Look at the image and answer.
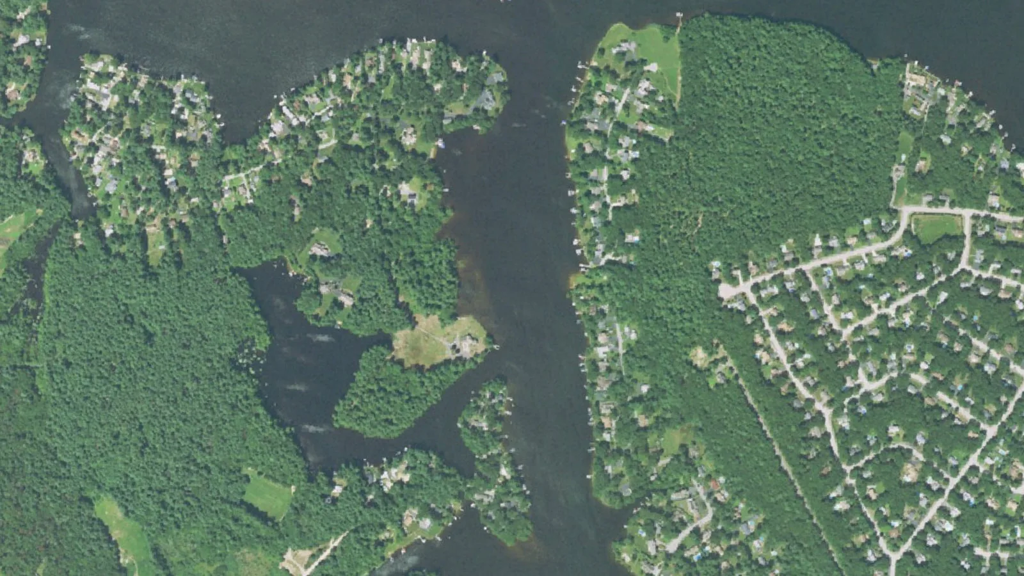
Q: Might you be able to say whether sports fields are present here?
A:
Yes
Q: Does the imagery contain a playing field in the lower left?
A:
Yes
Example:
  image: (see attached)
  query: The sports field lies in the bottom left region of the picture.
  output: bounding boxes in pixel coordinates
[242,471,293,520]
